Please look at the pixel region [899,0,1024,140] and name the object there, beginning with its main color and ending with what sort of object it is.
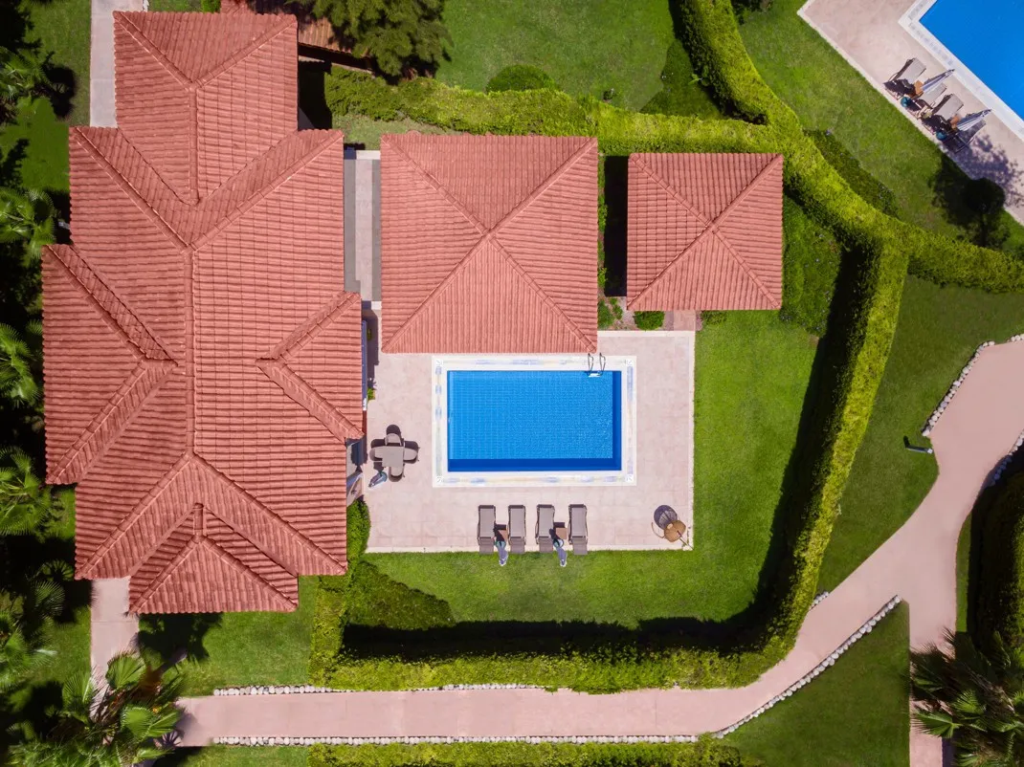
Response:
blue swimming pool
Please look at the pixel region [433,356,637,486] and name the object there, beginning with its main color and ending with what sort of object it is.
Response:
blue swimming pool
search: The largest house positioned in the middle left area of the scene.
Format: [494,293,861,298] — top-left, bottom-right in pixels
[39,8,366,615]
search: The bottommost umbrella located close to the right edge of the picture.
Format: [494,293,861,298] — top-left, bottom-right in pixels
[938,103,997,139]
